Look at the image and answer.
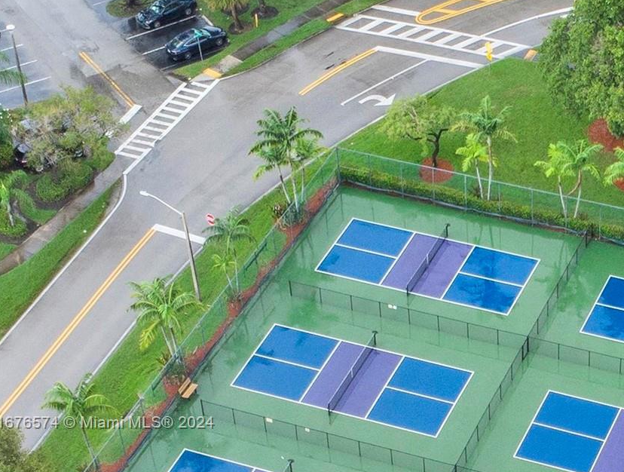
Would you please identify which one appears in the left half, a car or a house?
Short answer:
car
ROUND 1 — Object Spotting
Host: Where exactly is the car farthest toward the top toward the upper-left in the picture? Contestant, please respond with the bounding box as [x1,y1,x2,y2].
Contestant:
[137,0,200,34]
